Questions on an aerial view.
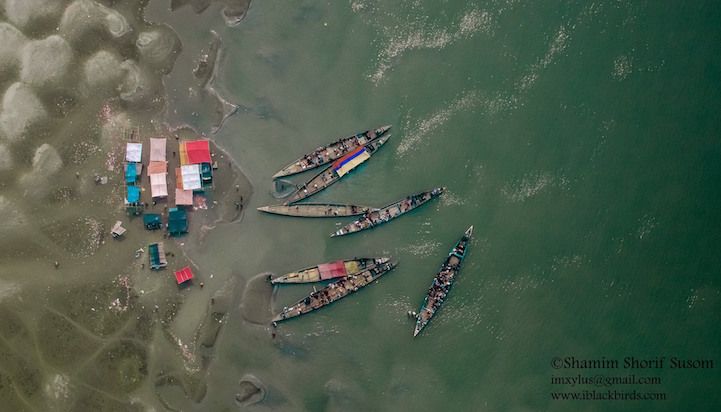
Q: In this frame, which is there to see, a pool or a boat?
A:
boat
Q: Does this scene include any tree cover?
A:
No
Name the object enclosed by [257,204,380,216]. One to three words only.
boat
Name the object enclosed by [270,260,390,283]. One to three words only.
boat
